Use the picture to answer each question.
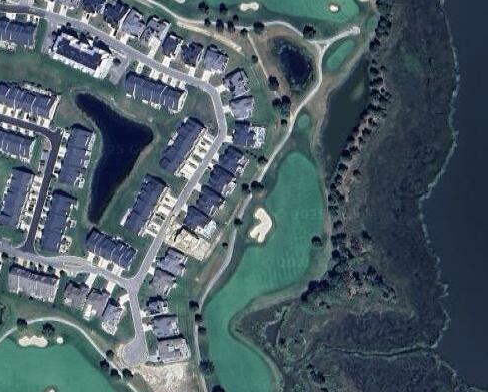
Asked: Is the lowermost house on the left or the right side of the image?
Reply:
left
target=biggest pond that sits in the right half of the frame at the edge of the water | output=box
[321,59,375,185]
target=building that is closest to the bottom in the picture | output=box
[144,335,191,364]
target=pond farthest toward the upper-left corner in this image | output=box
[74,92,154,225]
